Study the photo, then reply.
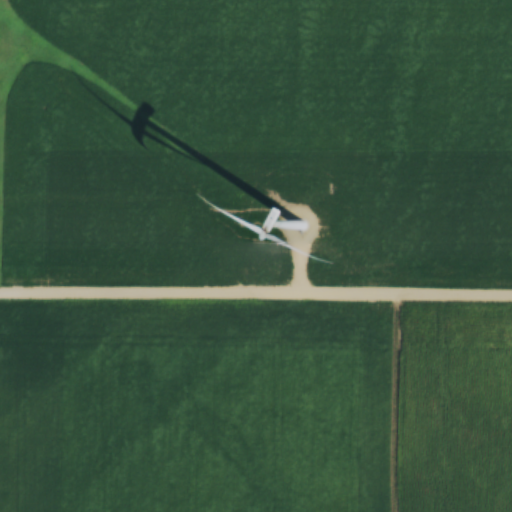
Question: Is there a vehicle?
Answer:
No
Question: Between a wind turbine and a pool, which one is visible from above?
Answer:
wind turbine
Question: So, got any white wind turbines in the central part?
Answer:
Yes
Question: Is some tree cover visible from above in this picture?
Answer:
No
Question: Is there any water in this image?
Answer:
No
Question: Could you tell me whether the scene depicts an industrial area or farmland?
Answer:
farmland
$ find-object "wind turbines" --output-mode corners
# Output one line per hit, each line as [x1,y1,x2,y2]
[196,194,330,264]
